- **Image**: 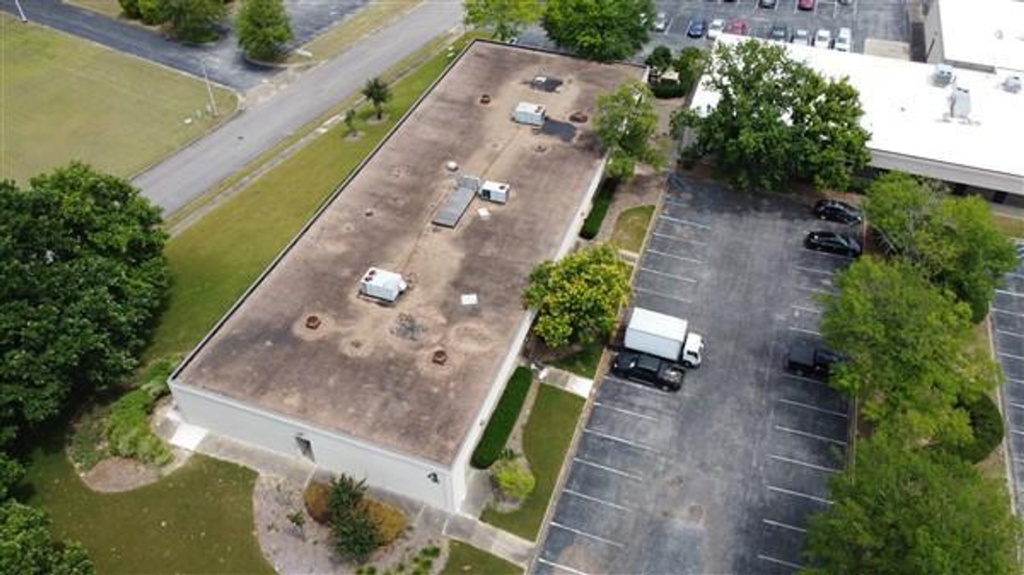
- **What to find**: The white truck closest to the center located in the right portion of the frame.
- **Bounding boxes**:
[623,307,709,373]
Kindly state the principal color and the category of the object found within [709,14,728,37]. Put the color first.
white car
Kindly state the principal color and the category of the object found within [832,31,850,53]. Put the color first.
white car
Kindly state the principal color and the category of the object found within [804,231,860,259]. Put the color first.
black car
